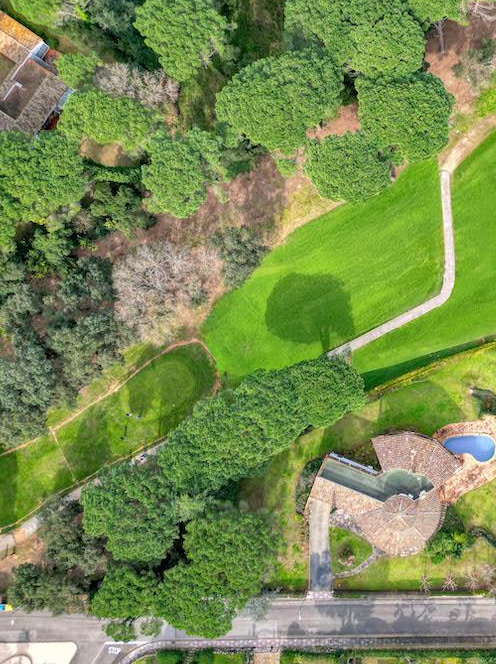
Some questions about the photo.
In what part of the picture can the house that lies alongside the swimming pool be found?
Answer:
bottom right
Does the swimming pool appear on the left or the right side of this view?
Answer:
right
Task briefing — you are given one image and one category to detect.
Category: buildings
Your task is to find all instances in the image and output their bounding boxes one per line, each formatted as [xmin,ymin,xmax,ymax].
[0,13,74,128]
[306,431,464,557]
